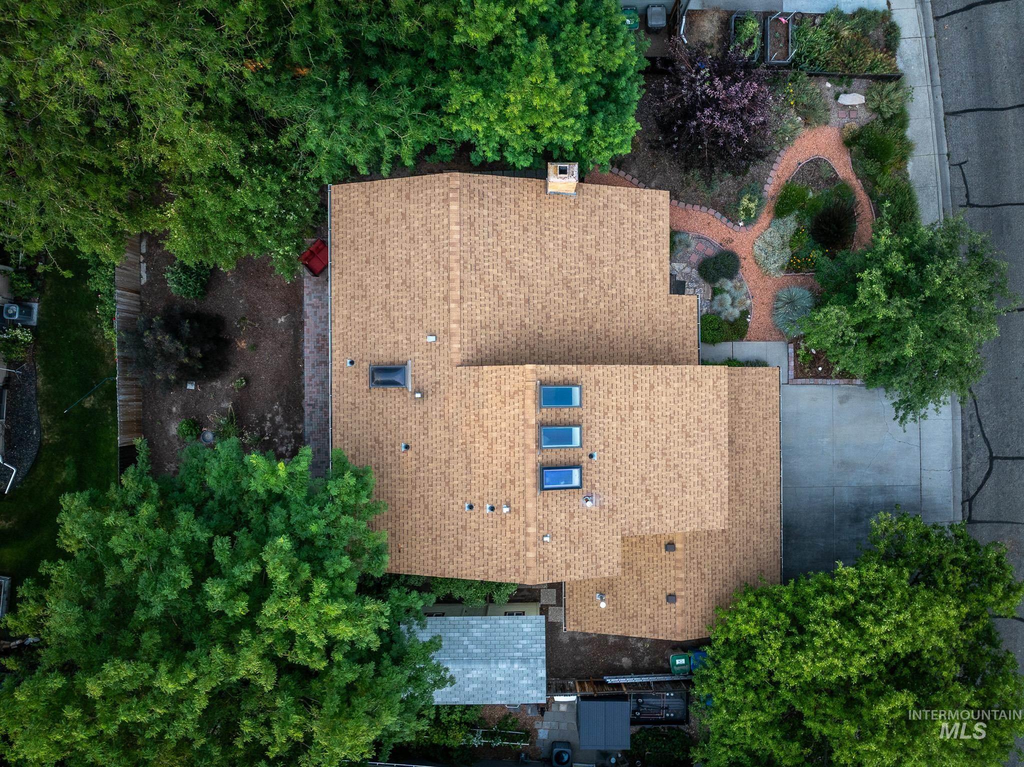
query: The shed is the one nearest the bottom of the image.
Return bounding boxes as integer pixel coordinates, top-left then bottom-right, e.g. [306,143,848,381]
[577,694,630,750]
